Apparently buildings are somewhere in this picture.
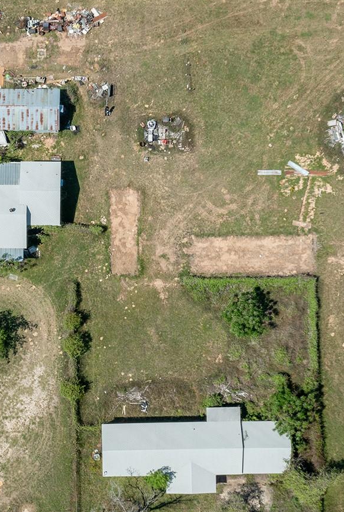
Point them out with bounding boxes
[0,160,65,267]
[0,88,65,134]
[101,406,292,494]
